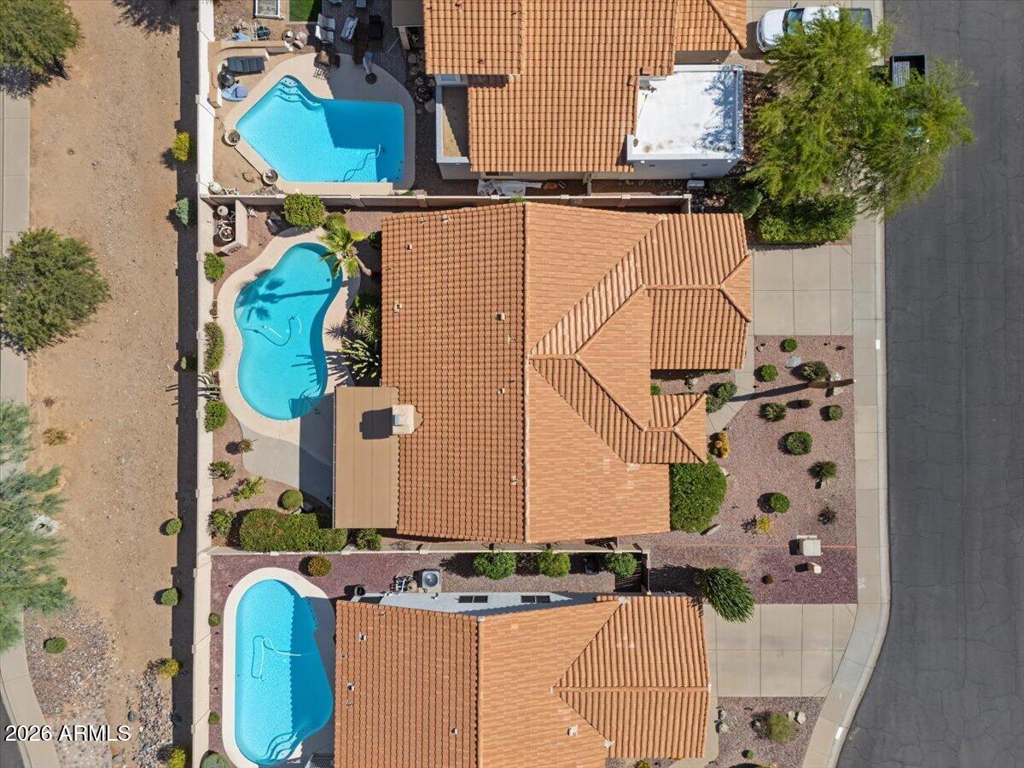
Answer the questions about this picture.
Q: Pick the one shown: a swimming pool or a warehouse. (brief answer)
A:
swimming pool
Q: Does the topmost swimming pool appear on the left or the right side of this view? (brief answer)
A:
left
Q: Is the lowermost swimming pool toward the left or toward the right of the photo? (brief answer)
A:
left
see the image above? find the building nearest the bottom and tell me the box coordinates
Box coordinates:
[334,592,711,768]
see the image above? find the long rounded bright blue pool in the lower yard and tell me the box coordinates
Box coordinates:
[234,579,333,765]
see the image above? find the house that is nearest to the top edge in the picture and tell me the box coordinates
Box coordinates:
[392,0,750,179]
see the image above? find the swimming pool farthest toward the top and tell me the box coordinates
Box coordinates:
[236,73,405,183]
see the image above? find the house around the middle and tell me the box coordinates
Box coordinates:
[332,202,755,548]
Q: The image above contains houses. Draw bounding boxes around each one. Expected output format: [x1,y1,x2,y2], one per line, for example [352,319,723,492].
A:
[334,592,711,768]
[332,202,755,548]
[392,0,750,179]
